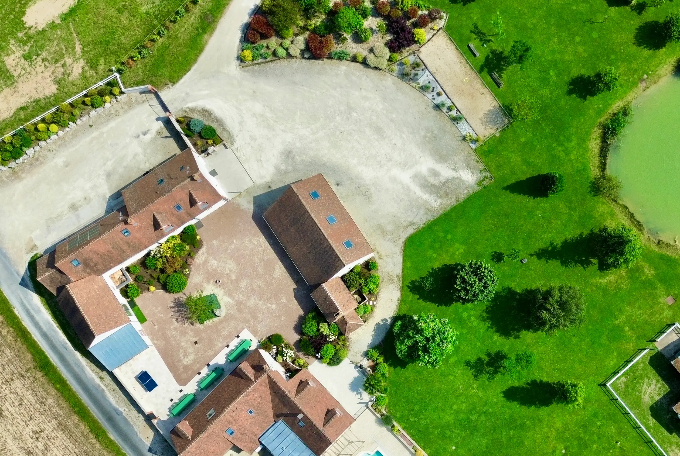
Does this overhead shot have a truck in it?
No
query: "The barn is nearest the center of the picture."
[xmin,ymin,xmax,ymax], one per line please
[260,173,376,286]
